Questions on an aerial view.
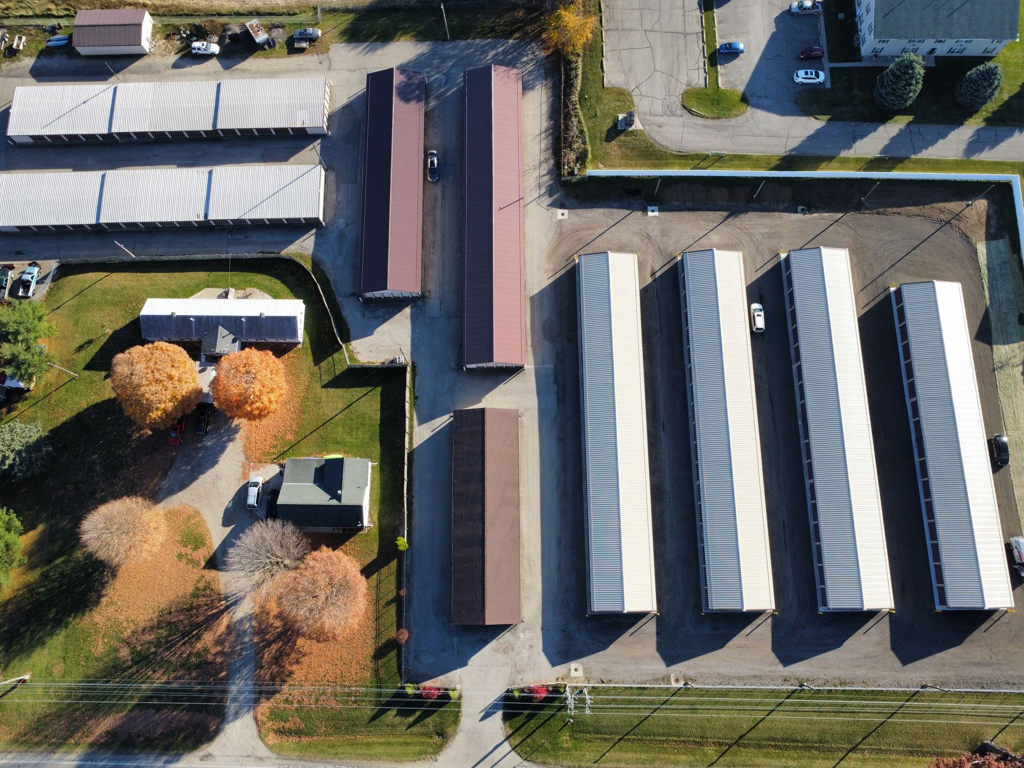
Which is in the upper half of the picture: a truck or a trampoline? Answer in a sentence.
The feature located in the upper half of the picture is a truck.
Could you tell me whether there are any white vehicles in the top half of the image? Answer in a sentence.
Yes, you'll find a white vehicle in the top half of the image.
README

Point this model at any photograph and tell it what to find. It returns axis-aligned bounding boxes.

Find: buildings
[854,0,1017,56]
[887,281,1015,608]
[778,245,895,610]
[274,457,378,536]
[462,64,526,367]
[359,66,425,296]
[450,407,523,625]
[0,164,325,233]
[571,251,660,613]
[674,248,775,611]
[7,77,330,143]
[70,8,153,56]
[138,296,305,353]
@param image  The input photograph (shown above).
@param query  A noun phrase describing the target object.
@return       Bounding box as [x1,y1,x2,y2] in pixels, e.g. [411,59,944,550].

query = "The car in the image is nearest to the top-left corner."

[190,40,221,56]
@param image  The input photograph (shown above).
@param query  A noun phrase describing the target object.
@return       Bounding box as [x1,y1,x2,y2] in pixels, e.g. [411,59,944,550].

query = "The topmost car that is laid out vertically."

[426,151,439,183]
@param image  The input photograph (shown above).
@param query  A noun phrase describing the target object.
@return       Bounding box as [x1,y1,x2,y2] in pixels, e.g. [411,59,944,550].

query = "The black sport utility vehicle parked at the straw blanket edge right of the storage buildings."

[991,434,1012,466]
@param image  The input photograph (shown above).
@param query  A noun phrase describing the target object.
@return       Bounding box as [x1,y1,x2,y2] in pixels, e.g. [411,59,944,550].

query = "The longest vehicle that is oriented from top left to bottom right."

[247,17,280,58]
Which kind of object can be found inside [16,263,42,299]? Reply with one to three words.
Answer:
truck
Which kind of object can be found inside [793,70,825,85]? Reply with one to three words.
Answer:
car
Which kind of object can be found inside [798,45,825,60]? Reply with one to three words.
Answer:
car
